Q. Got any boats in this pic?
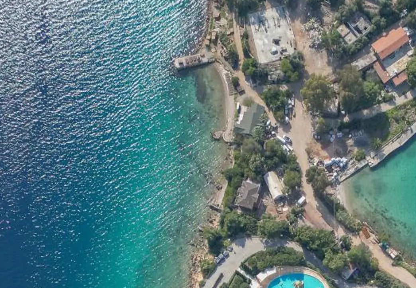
No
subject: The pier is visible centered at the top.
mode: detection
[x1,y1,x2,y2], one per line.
[174,55,214,69]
